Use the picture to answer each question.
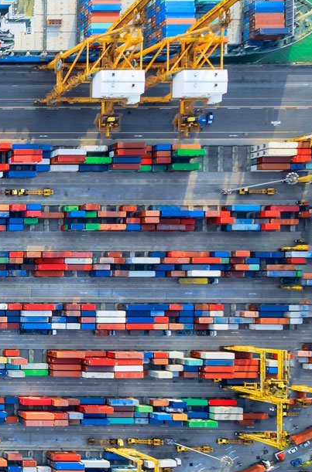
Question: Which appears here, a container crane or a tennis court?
container crane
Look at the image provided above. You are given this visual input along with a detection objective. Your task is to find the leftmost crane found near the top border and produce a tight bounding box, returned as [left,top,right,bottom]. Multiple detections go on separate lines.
[41,0,148,146]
